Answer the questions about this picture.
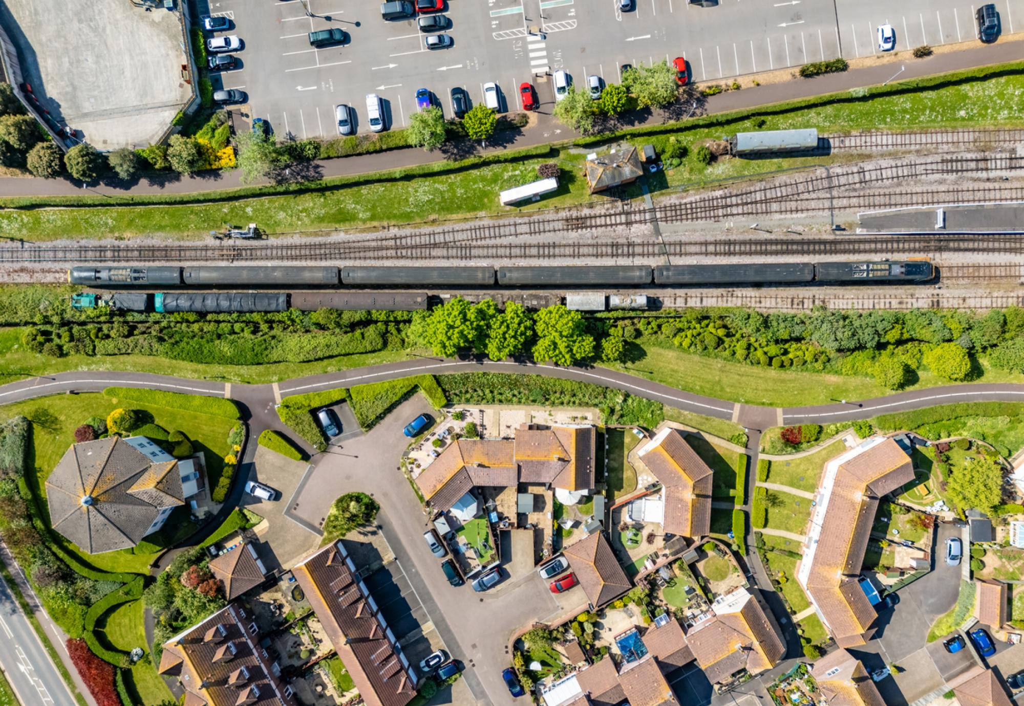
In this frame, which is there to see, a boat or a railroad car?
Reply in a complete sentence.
Visible in the photo is a railroad car.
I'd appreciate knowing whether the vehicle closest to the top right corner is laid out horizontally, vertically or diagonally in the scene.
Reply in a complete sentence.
From this overhead view, the vehicle closest to the top right corner appears to run vertically.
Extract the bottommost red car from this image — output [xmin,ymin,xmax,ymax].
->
[548,571,579,594]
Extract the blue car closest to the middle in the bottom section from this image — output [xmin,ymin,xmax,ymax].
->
[402,412,430,439]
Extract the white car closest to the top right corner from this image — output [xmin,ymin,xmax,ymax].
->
[877,22,895,52]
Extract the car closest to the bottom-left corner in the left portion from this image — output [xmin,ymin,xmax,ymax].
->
[244,480,278,503]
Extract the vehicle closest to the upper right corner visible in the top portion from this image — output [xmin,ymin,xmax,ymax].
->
[980,2,1000,43]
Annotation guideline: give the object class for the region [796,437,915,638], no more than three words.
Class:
house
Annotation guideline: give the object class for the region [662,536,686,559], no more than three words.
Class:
shed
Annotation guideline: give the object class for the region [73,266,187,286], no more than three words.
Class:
rail car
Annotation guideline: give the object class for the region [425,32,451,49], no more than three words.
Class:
car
